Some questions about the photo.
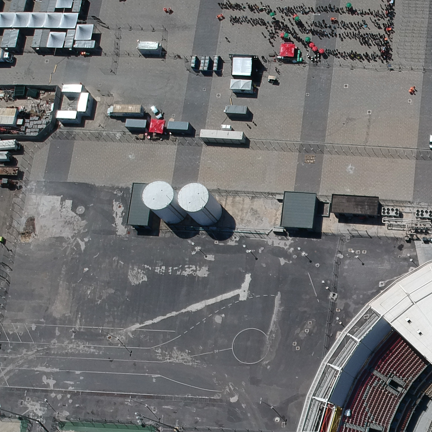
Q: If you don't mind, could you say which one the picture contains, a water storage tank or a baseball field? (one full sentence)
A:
Looking from above, you can make out a water storage tank.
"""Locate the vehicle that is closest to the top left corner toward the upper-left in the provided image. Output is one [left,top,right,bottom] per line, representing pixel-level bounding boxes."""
[0,50,13,63]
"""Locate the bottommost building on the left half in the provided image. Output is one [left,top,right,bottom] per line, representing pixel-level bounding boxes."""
[127,184,154,229]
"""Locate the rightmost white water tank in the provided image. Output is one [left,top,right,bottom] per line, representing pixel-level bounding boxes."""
[177,182,223,225]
